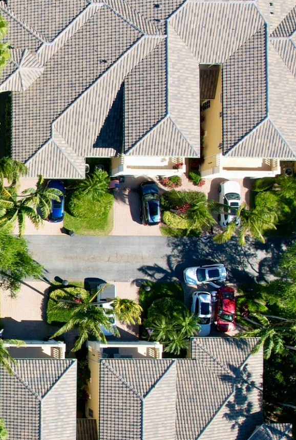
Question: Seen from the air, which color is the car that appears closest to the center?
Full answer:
In this view, the car that appears closest to the center is black.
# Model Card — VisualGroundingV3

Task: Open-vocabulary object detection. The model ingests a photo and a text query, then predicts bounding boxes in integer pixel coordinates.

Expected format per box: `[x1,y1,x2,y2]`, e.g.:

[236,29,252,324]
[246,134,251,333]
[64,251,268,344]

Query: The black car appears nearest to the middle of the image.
[138,182,162,226]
